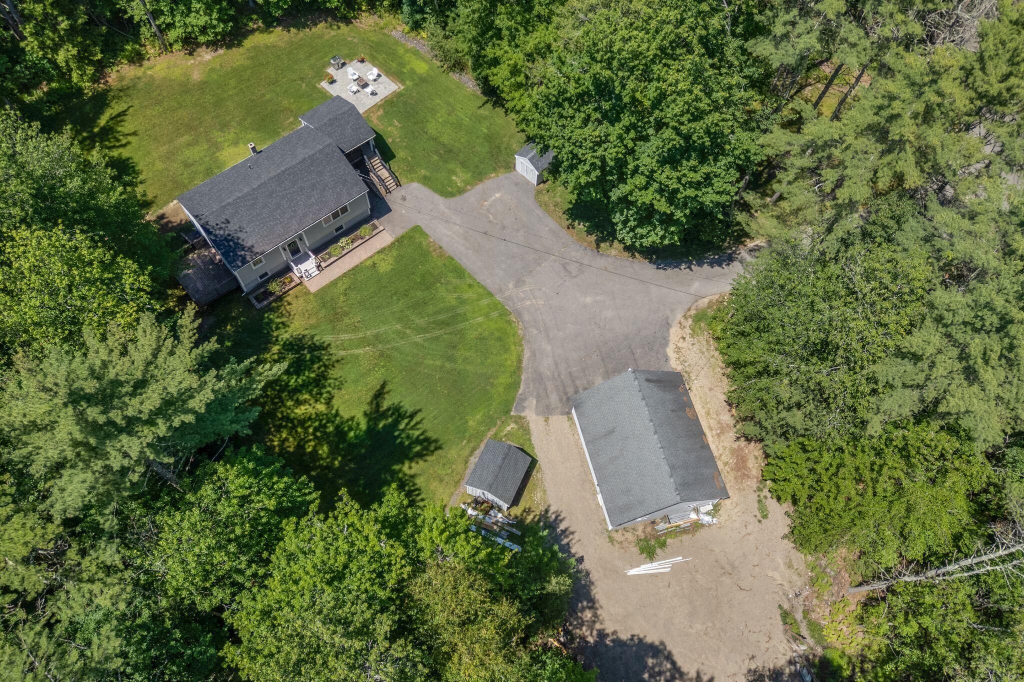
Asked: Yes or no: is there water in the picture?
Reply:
No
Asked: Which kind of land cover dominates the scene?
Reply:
trees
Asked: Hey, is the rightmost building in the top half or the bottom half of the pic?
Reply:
bottom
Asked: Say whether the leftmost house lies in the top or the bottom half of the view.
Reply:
top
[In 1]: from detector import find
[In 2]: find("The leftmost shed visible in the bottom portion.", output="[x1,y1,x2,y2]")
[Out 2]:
[464,439,532,510]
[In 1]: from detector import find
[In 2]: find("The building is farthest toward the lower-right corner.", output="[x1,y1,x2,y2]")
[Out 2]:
[571,368,731,534]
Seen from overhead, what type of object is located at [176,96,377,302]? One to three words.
house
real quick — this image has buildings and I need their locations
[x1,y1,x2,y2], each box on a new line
[571,368,731,534]
[176,96,377,302]
[464,439,532,510]
[514,135,563,186]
